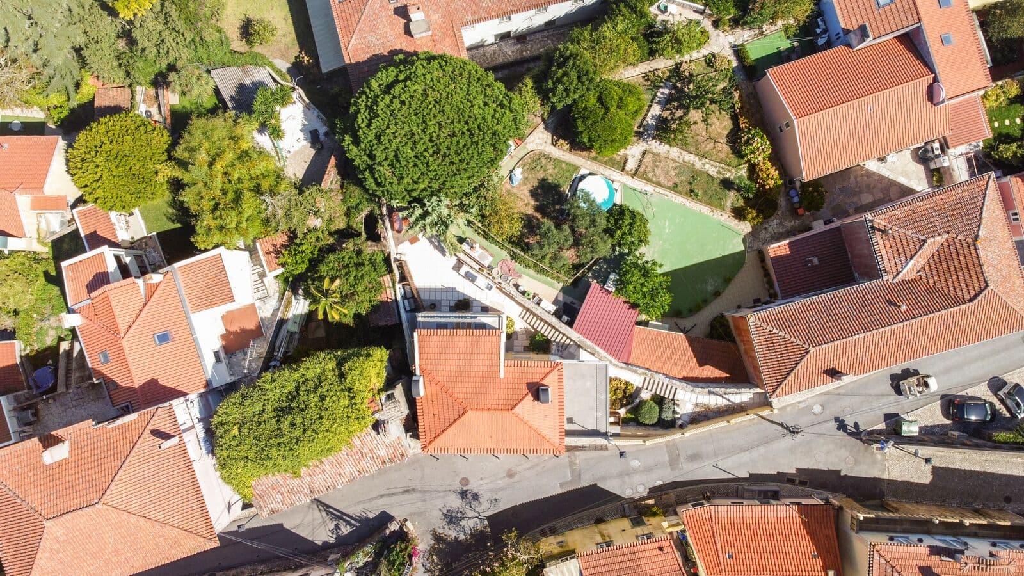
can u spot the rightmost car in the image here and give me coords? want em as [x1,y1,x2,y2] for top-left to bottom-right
[996,375,1024,419]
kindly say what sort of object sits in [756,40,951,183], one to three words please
house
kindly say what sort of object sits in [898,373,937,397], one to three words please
car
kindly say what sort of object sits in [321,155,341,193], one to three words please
shed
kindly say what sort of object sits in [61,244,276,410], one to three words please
house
